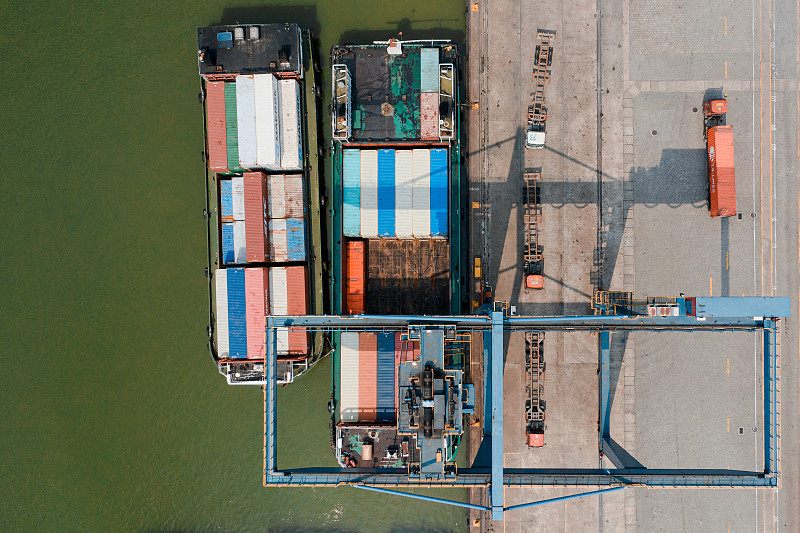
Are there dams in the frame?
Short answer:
No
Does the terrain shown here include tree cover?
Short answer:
No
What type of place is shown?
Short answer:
port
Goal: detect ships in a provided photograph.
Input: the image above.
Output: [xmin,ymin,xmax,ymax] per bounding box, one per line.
[192,19,328,388]
[327,27,464,468]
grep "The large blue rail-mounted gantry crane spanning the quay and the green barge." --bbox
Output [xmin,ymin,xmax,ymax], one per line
[262,291,788,519]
